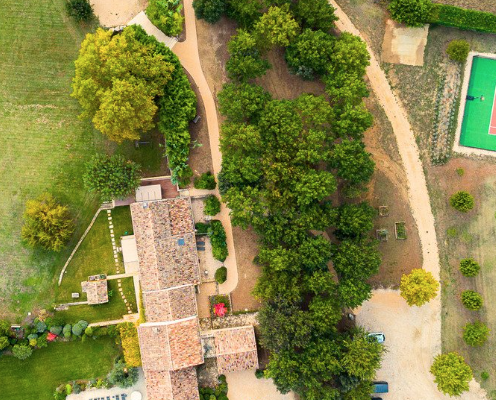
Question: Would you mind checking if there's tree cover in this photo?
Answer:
Yes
